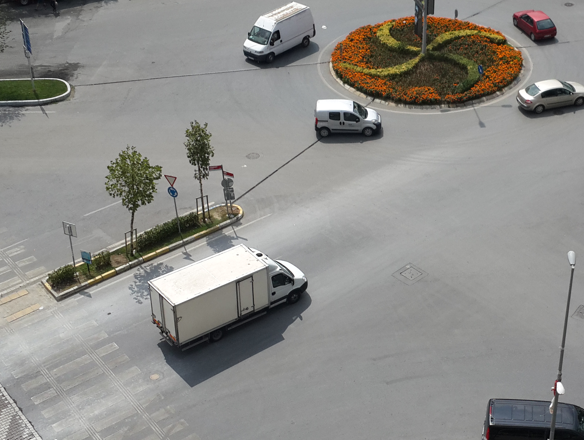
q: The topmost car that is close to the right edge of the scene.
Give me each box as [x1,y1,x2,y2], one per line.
[511,8,559,41]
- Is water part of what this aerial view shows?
No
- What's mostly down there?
paved ground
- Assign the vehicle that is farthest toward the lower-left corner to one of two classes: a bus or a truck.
truck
